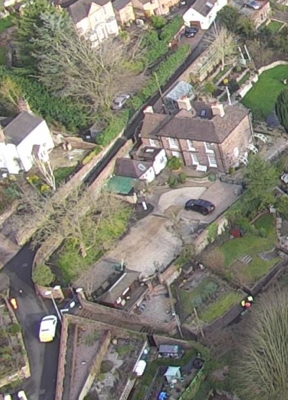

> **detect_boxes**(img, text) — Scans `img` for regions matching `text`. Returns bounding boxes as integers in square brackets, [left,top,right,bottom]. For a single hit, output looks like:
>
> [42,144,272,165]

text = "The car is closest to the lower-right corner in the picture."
[184,193,214,212]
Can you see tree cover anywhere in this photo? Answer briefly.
Yes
